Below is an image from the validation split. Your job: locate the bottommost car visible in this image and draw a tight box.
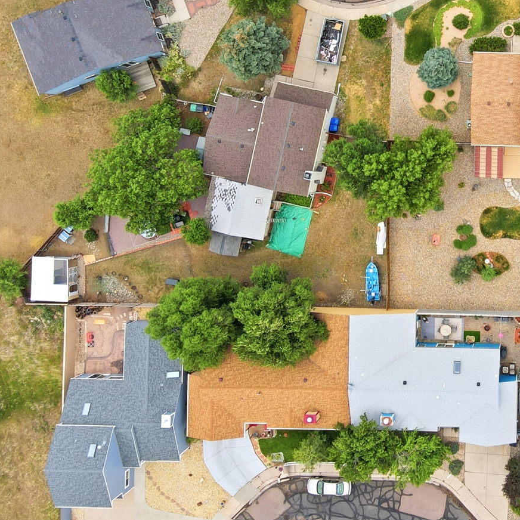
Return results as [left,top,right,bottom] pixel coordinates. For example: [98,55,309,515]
[308,476,353,499]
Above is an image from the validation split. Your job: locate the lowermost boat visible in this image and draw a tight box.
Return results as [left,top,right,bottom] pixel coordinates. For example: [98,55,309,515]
[357,255,382,307]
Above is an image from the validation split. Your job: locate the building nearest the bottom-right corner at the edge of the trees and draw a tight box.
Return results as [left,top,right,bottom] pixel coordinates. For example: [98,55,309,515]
[347,310,518,448]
